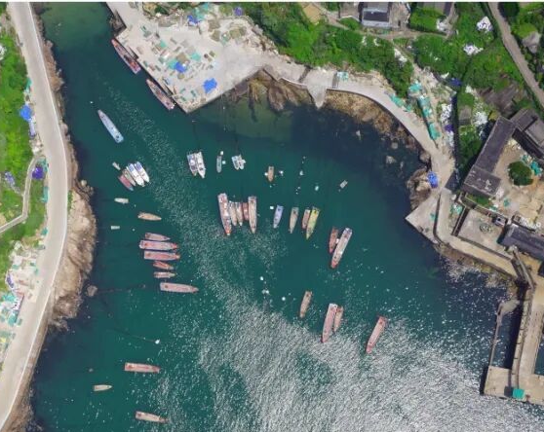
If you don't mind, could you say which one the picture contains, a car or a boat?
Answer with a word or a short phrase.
boat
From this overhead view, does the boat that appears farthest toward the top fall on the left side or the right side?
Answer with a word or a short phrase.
left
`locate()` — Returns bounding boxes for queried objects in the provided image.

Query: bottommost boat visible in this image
[135,411,168,424]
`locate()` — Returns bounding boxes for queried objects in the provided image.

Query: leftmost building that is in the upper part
[339,2,359,21]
